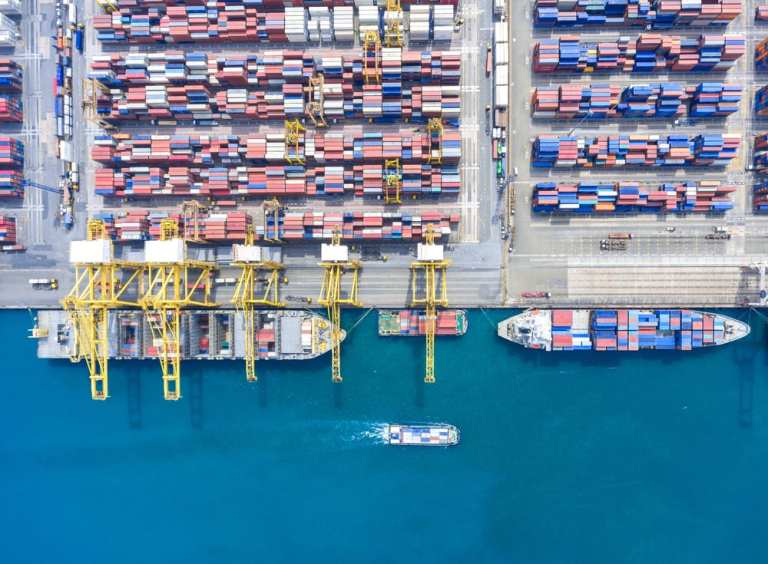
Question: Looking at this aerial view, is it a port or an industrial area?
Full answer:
This looks like a port.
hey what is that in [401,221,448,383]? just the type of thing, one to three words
container crane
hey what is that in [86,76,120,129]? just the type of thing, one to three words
container crane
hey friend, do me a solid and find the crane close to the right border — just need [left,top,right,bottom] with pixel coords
[733,263,768,306]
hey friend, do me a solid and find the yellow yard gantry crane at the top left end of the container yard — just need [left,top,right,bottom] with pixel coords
[98,0,132,46]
